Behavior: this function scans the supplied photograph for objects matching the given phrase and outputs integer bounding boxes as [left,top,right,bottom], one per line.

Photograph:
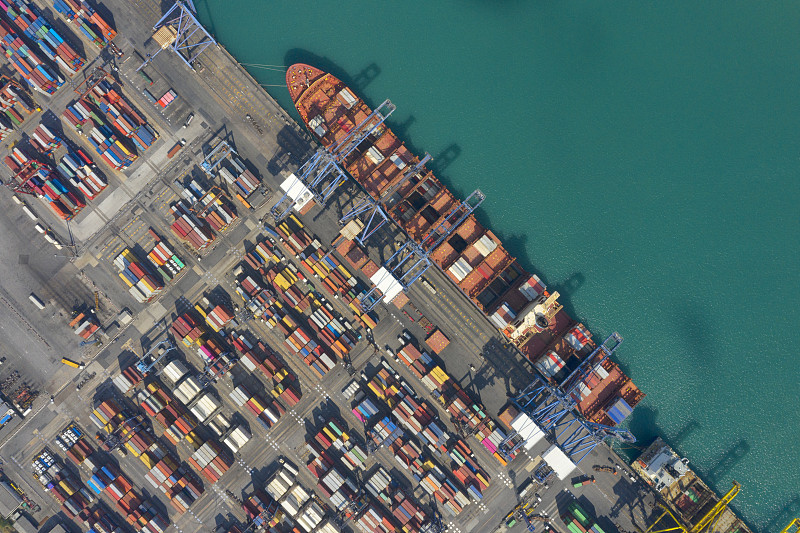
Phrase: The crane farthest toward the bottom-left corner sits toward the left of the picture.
[95,417,144,460]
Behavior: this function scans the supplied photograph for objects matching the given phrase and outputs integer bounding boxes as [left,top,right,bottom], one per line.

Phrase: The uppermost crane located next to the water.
[140,0,223,73]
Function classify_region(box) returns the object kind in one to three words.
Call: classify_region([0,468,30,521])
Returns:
building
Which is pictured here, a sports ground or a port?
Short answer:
port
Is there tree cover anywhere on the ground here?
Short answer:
No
